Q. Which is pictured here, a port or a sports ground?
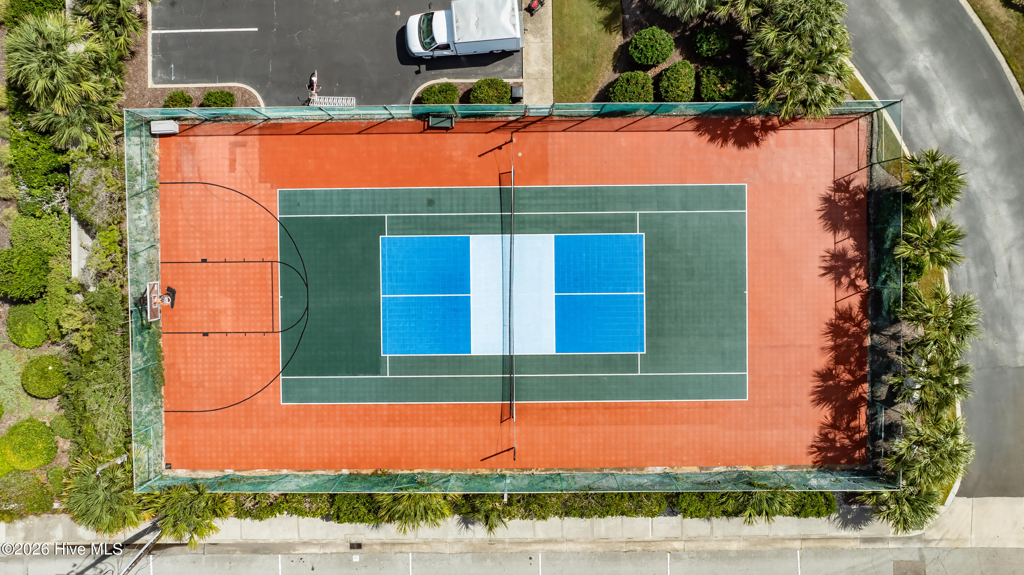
sports ground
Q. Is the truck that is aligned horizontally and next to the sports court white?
Yes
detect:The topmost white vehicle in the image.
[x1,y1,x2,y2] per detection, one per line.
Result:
[401,0,528,62]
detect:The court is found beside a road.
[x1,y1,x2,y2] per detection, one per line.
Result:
[159,115,867,470]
